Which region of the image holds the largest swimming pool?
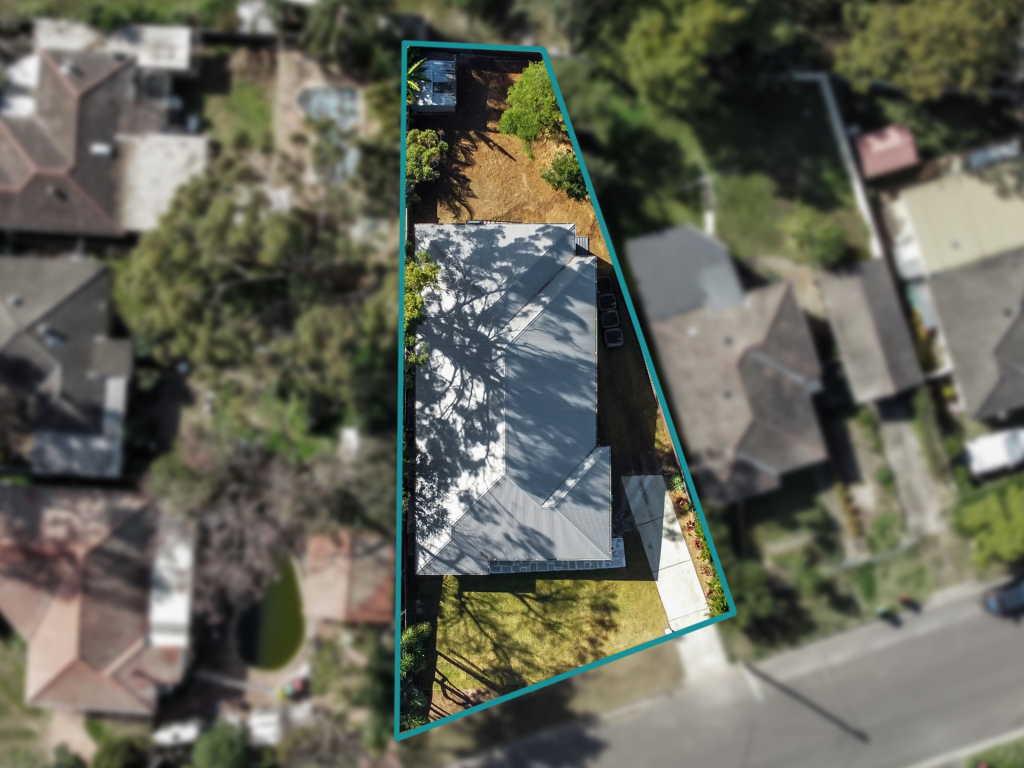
bottom left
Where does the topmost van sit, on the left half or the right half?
right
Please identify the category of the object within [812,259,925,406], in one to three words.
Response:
building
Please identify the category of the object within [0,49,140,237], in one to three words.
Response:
house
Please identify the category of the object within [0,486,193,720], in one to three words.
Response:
house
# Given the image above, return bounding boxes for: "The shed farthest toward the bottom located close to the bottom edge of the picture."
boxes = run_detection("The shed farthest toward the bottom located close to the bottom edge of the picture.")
[252,700,291,751]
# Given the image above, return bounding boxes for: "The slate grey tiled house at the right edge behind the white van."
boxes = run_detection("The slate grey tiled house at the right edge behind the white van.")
[928,246,1024,420]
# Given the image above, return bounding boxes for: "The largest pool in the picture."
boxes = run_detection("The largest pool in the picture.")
[230,548,308,673]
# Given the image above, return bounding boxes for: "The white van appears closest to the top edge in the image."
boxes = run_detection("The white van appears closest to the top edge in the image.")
[954,429,1024,475]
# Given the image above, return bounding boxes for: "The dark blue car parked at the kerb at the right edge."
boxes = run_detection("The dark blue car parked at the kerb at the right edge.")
[979,577,1024,616]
